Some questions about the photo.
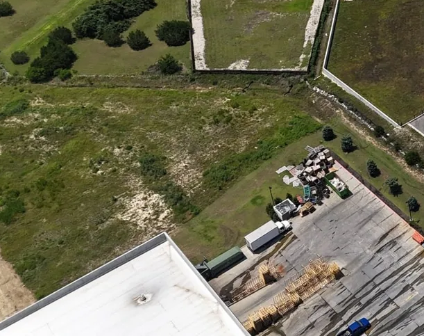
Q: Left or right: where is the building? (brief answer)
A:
left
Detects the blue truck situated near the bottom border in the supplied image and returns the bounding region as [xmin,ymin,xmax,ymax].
[339,314,373,336]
